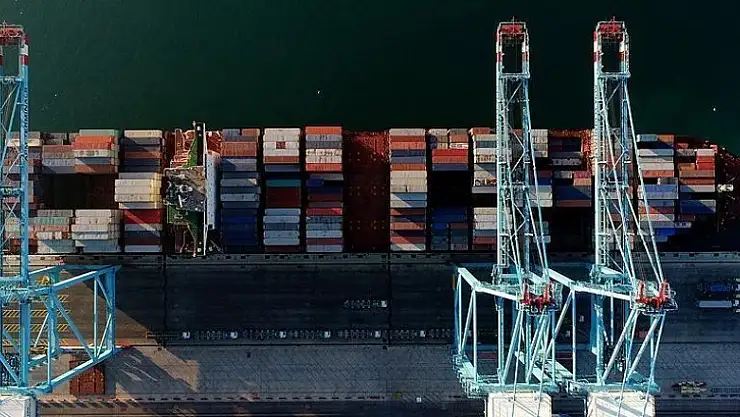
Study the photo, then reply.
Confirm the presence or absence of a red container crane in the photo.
No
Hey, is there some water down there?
Yes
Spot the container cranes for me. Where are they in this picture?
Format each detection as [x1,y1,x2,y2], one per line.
[439,15,556,417]
[0,16,135,417]
[520,15,669,417]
